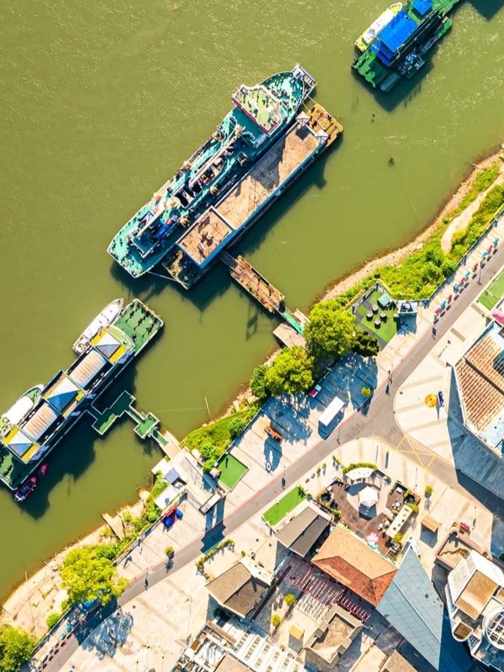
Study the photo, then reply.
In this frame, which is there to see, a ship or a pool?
ship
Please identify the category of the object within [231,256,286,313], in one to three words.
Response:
pier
